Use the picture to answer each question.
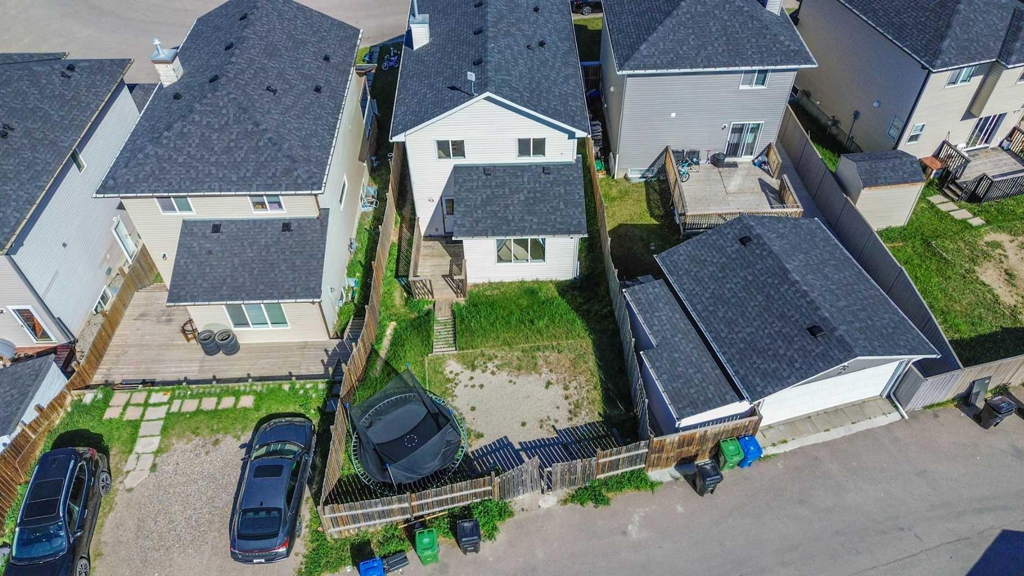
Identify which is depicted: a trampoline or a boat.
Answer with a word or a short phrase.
trampoline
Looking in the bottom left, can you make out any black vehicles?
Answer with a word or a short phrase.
Yes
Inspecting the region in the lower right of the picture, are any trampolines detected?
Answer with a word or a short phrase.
No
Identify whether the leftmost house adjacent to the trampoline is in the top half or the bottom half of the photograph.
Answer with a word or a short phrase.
top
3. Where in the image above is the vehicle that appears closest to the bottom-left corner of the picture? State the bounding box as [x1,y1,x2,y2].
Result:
[3,447,107,576]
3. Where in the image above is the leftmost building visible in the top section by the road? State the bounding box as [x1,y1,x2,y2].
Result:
[0,53,146,343]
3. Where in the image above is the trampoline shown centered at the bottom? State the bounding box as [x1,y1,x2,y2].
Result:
[345,366,469,504]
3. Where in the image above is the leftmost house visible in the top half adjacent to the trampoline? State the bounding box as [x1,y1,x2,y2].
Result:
[91,0,391,347]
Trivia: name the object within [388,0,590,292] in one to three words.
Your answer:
house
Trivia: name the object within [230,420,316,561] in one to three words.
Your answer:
car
